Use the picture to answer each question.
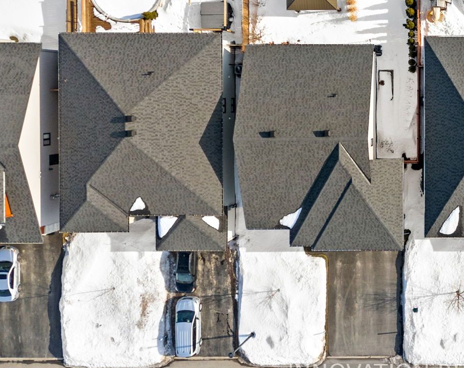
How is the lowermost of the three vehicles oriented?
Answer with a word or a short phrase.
vertically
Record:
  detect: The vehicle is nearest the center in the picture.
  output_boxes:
[170,251,201,291]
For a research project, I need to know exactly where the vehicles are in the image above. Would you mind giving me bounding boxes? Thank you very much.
[173,295,205,357]
[0,245,26,302]
[170,251,201,291]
